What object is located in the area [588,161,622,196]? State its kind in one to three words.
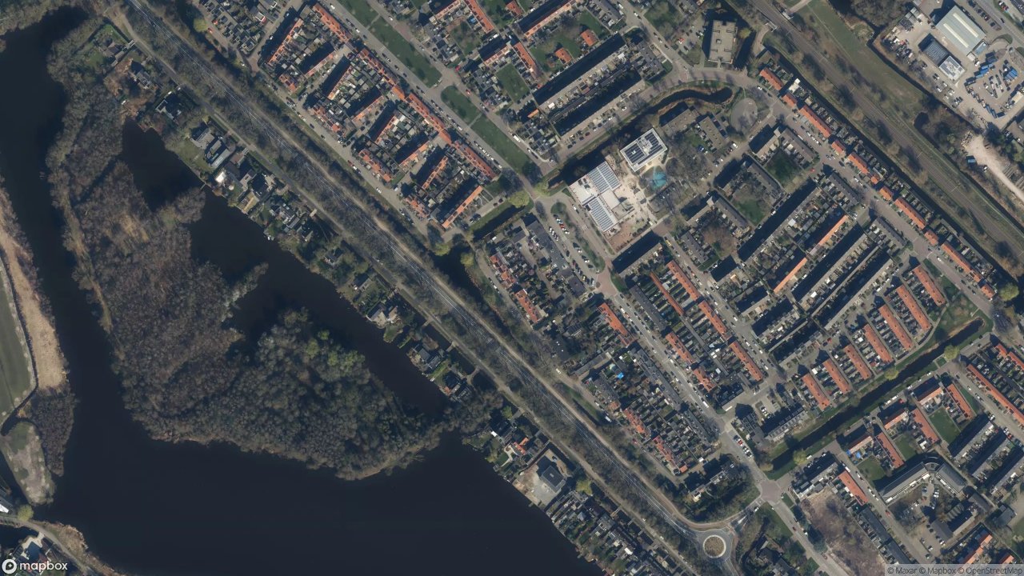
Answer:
building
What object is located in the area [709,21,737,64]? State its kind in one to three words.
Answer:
building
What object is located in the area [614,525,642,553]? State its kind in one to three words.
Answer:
house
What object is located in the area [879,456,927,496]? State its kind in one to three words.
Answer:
house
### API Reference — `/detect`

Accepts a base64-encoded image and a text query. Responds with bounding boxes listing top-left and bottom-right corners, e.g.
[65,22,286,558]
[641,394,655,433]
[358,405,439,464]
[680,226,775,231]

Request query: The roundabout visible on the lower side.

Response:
[677,516,747,567]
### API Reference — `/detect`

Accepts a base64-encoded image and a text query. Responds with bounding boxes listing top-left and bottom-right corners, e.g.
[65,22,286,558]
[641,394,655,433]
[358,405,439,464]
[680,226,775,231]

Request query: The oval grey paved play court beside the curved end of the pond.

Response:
[731,98,758,132]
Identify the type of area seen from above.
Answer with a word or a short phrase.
residential area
